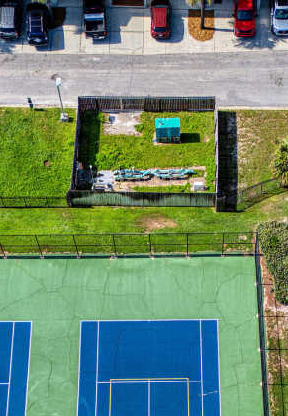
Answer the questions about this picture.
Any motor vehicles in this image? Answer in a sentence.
Yes, there is a motor vehicle in the image.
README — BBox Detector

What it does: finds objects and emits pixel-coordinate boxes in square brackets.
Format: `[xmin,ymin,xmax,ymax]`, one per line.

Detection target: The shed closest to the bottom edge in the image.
[156,117,179,141]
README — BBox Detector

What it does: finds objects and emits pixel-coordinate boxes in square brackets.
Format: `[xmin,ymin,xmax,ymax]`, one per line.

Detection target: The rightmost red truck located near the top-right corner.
[230,0,255,37]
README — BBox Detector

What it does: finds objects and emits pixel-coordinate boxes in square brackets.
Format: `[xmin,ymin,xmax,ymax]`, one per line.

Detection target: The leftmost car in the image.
[0,1,23,41]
